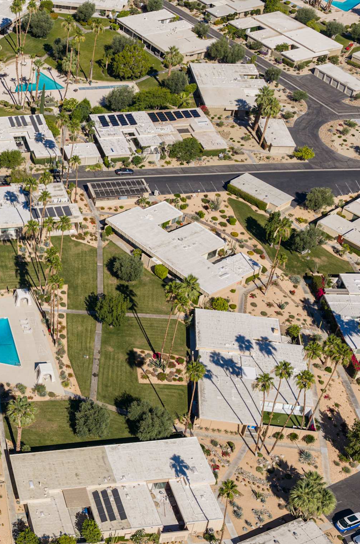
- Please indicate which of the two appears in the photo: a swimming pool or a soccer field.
swimming pool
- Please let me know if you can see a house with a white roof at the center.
Yes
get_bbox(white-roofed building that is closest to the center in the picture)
[105,202,262,309]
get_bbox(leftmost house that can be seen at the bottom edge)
[9,436,225,544]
